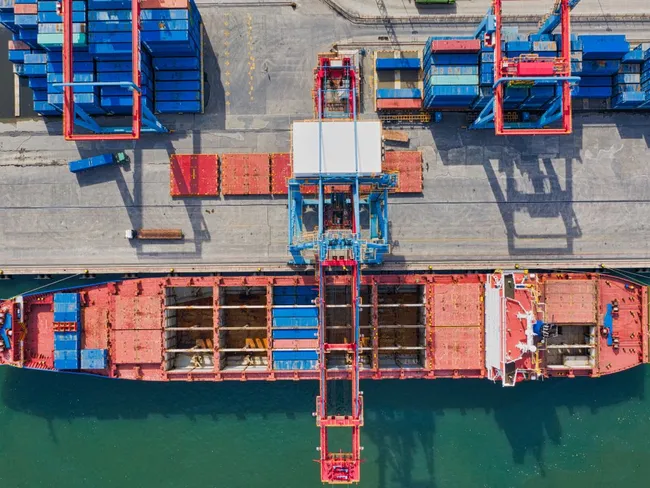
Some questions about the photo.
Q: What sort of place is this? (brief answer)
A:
port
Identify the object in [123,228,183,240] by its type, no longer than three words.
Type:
vehicle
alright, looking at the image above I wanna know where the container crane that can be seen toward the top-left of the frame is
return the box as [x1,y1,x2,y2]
[50,0,183,138]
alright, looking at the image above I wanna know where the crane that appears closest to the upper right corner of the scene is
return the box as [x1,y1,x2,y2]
[453,0,583,135]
